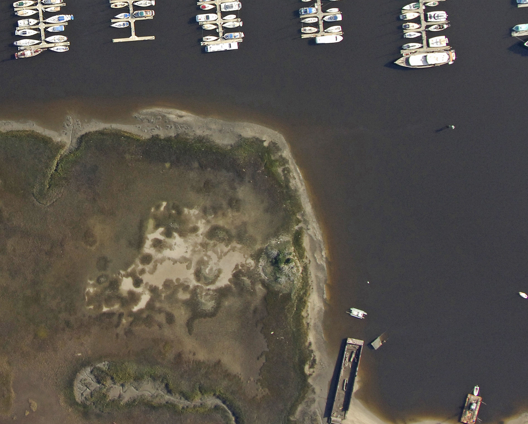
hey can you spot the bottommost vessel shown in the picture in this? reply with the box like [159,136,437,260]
[460,394,484,424]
